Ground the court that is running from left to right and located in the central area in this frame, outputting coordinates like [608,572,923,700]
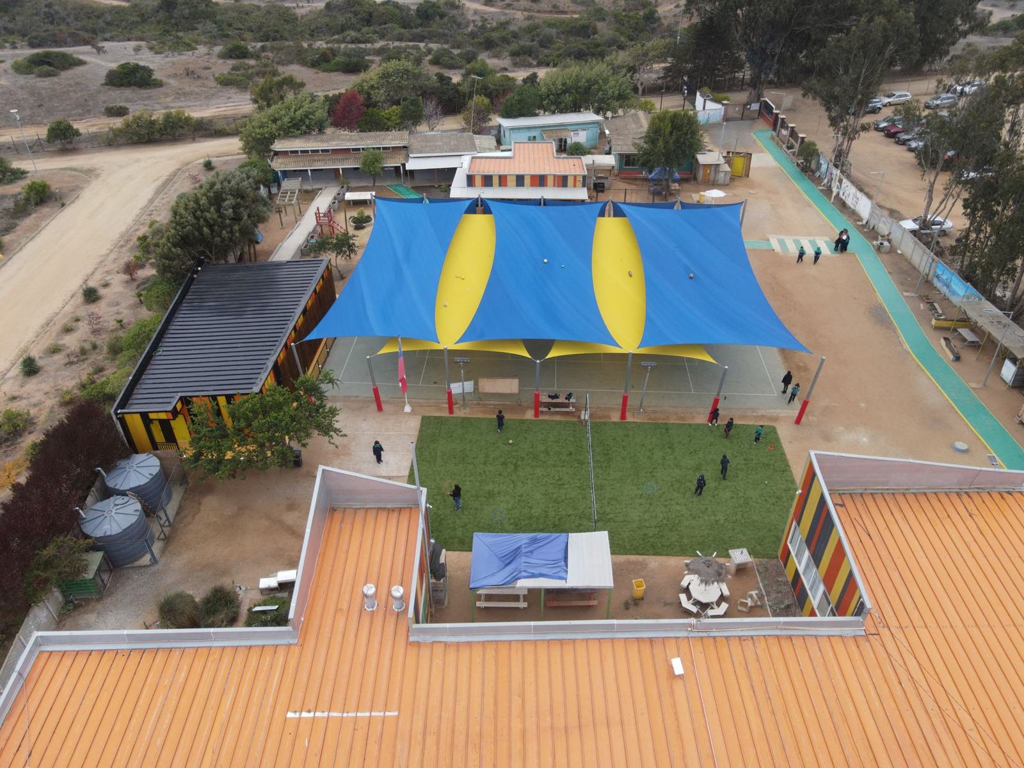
[314,335,801,410]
